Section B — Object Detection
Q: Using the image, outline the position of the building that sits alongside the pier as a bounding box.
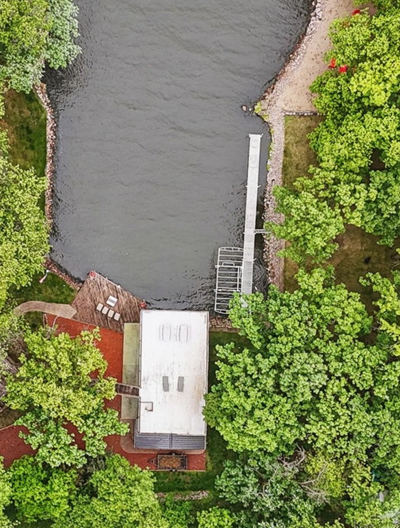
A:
[133,311,210,452]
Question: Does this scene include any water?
Yes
